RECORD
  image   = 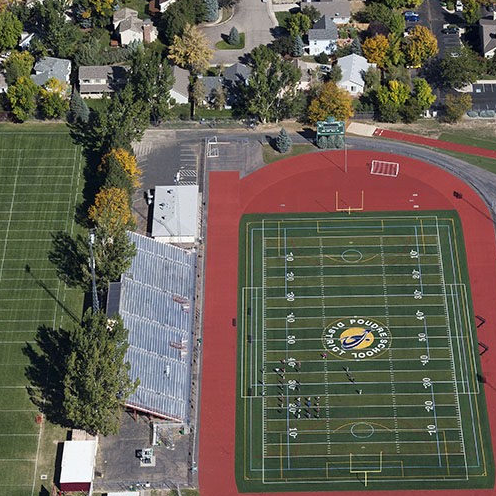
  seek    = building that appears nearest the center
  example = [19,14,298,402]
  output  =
[152,186,198,245]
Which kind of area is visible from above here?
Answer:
sports ground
